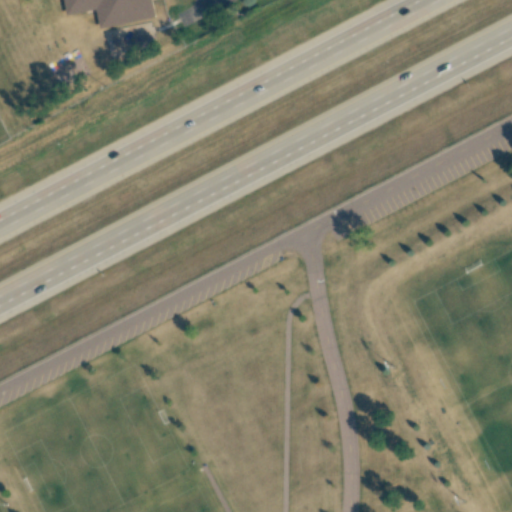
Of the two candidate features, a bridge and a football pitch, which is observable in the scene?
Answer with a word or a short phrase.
football pitch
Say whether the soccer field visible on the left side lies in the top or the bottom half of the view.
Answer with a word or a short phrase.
bottom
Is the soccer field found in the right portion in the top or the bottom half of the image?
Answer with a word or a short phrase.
bottom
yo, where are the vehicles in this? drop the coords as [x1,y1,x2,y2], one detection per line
[34,284,46,292]
[398,7,410,16]
[108,150,119,158]
[254,84,265,92]
[400,72,410,80]
[184,119,196,128]
[437,62,451,72]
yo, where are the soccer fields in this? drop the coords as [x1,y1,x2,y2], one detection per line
[5,364,188,512]
[416,250,512,486]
